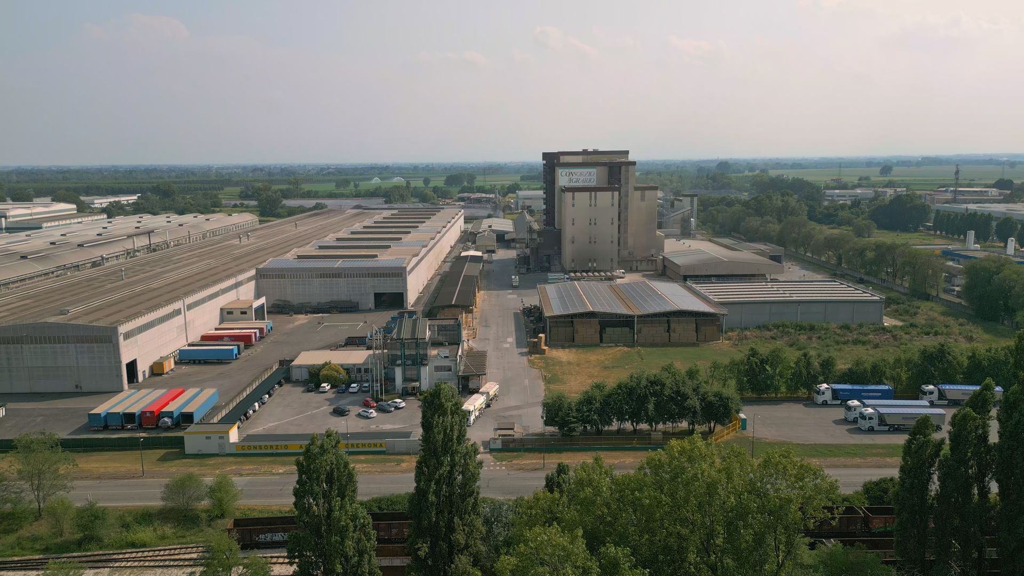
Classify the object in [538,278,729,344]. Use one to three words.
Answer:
barn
